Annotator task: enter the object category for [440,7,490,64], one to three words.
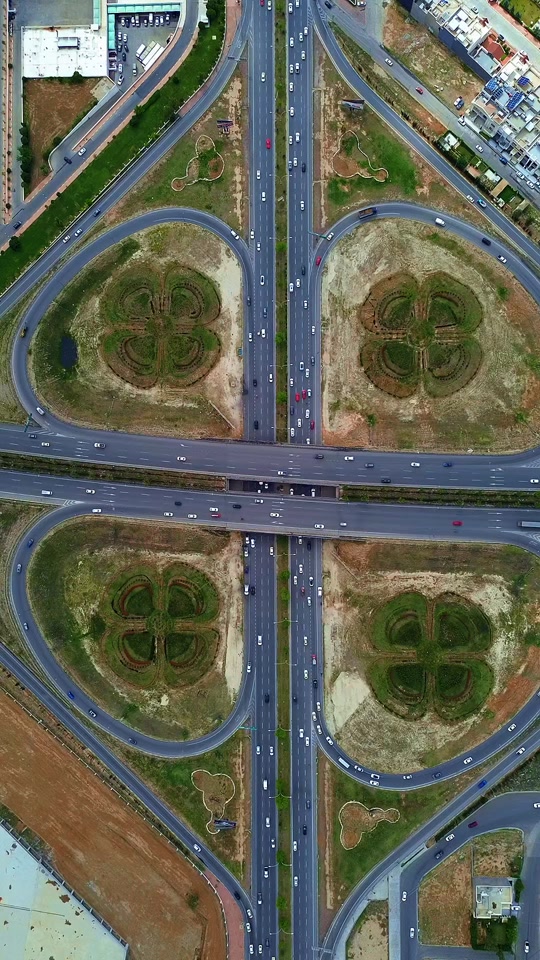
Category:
house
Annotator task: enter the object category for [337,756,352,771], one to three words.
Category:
vehicle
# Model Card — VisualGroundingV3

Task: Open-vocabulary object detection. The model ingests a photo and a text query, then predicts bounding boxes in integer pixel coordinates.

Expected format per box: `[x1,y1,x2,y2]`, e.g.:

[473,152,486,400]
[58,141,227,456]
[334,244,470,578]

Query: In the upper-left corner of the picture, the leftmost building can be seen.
[22,24,111,83]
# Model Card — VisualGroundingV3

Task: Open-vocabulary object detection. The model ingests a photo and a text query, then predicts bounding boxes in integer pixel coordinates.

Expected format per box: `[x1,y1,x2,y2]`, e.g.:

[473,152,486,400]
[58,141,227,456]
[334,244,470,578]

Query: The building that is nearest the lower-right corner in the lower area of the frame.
[473,881,513,920]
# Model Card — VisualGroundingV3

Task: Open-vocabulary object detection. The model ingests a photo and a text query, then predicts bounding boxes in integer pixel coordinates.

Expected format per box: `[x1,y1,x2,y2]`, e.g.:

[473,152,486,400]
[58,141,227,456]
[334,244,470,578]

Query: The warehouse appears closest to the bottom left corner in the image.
[0,818,128,960]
